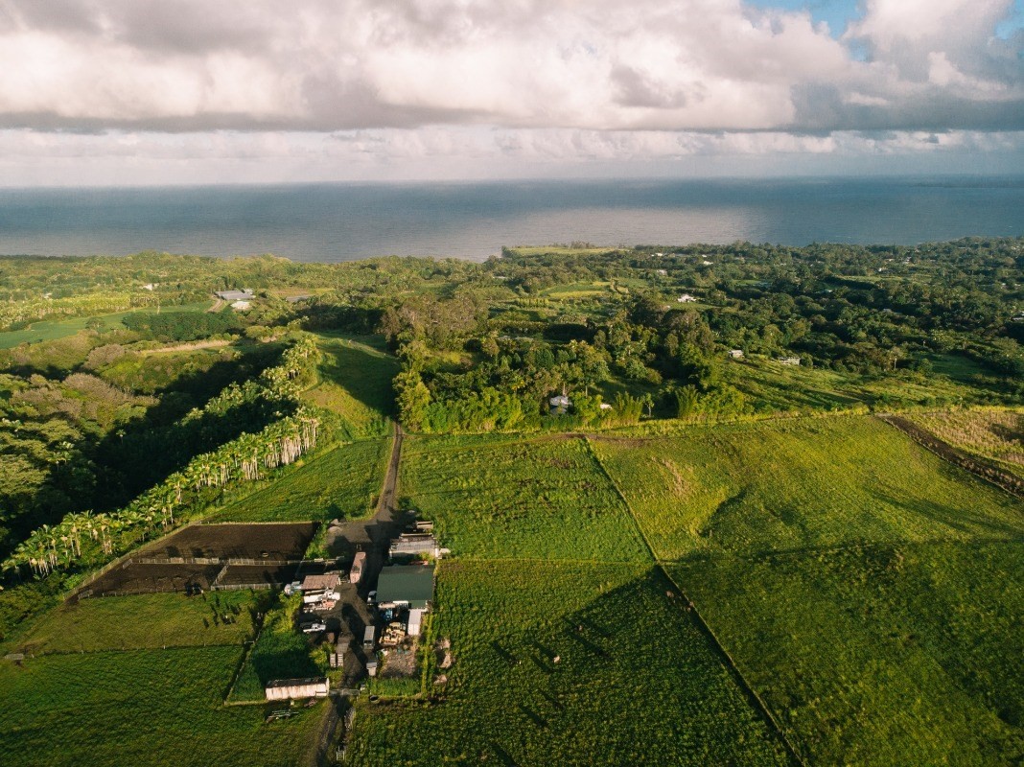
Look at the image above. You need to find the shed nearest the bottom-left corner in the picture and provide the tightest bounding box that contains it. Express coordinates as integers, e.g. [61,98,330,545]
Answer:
[266,675,331,700]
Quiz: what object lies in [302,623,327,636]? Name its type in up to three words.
vehicle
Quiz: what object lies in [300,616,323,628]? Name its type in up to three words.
vehicle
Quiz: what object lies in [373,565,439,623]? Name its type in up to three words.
shed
